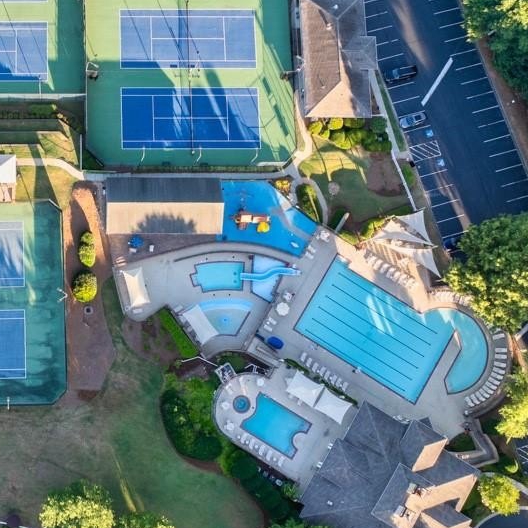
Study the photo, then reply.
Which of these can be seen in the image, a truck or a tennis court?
tennis court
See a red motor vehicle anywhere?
No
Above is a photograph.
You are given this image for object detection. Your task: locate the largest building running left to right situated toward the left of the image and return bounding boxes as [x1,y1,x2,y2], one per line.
[106,177,226,236]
